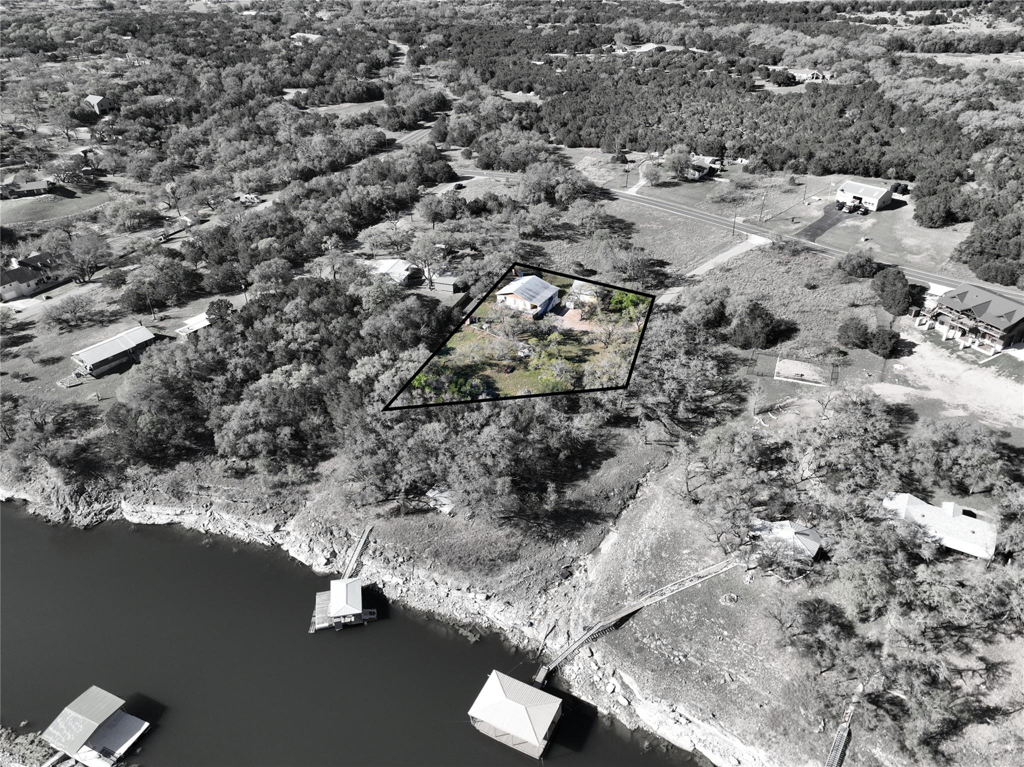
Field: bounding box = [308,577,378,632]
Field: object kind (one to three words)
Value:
building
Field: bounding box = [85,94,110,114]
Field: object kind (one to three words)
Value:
barn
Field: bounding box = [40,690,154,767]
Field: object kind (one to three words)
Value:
building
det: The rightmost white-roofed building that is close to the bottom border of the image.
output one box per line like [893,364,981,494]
[467,670,560,764]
